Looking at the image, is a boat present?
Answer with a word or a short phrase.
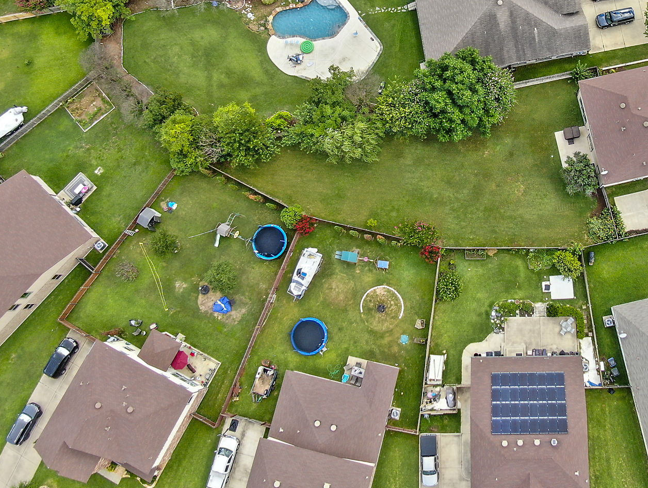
Yes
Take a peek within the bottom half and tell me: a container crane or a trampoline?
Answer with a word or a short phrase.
trampoline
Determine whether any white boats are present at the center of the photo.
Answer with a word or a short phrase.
Yes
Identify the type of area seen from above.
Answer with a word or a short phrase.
residential area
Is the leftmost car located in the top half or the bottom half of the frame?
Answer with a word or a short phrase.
bottom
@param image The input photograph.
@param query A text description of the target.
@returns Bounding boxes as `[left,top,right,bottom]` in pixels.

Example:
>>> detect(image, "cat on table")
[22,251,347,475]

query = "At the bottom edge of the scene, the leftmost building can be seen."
[34,340,210,484]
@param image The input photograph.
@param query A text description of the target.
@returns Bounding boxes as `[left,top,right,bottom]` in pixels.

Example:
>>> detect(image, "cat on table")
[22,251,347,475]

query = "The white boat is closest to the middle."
[290,247,322,299]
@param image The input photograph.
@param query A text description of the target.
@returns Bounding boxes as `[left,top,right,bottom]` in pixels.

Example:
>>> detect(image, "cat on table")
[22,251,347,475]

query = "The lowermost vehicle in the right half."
[419,434,440,487]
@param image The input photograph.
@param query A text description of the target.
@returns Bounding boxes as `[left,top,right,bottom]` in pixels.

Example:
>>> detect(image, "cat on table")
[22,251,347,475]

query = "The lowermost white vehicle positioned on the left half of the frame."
[204,433,240,488]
